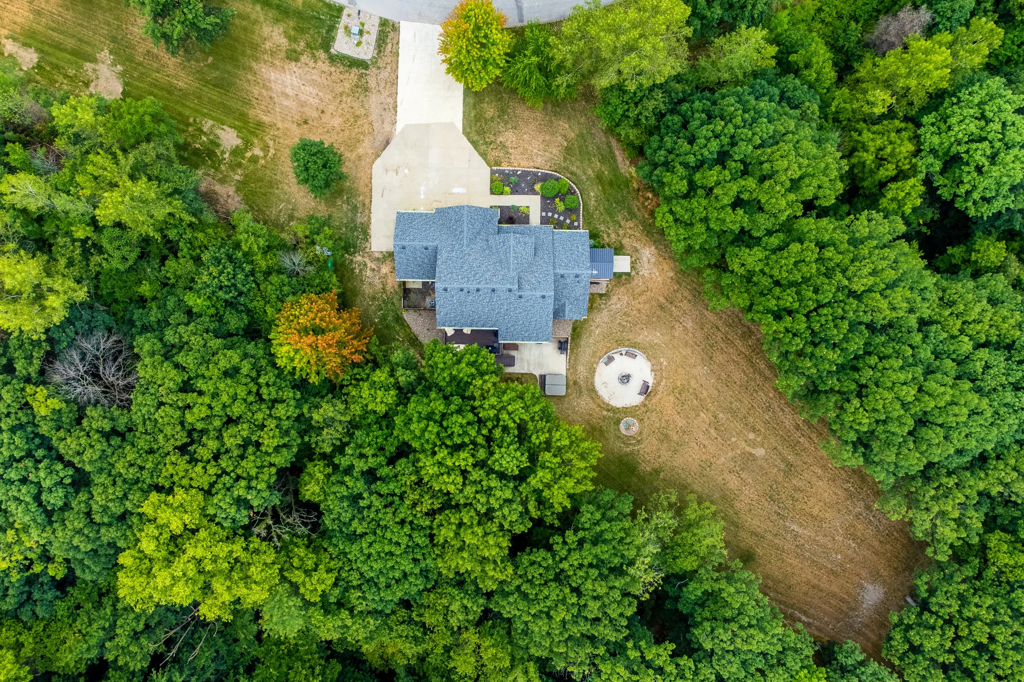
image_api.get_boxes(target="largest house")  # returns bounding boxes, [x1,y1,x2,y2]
[393,205,591,344]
